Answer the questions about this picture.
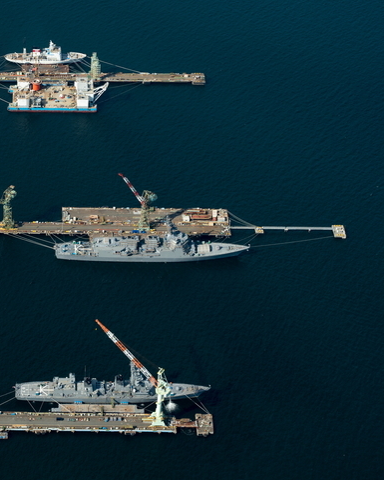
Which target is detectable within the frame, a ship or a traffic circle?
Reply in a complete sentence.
I can see a ship in this picture.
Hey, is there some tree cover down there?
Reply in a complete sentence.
No, tree cover can't be seen anywhere here.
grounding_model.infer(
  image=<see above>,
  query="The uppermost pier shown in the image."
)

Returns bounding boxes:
[0,70,205,87]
